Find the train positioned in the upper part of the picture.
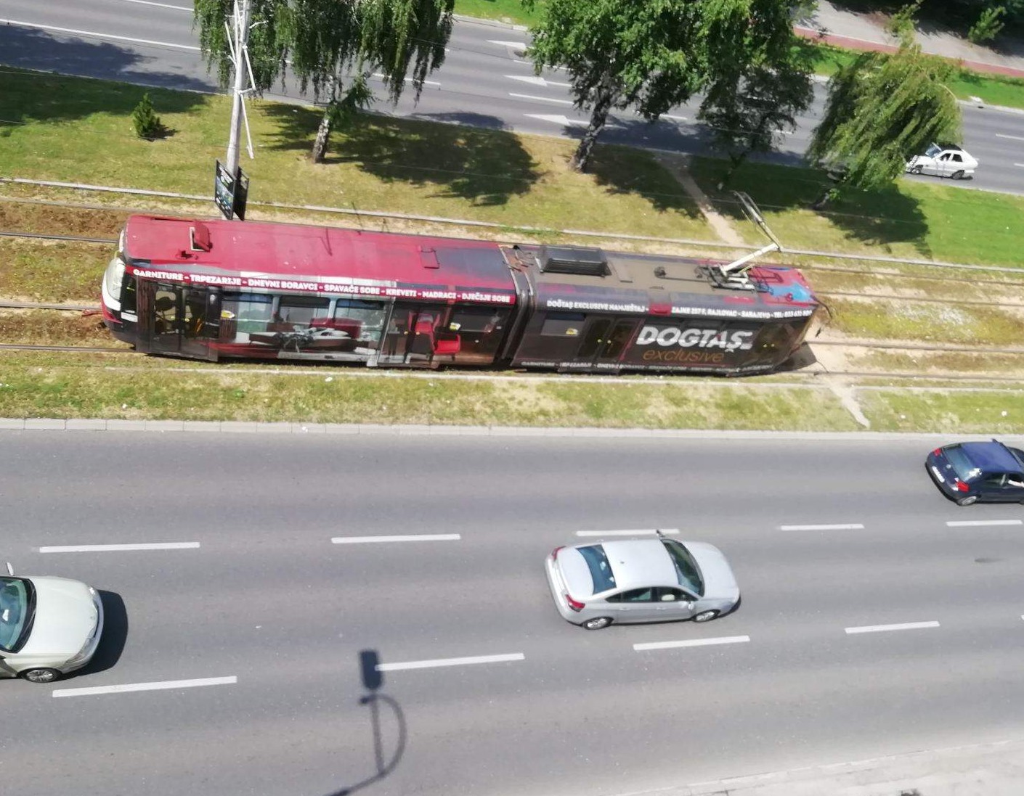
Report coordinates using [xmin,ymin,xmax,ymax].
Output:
[80,192,821,375]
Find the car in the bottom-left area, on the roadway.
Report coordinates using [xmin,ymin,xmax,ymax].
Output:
[0,562,104,683]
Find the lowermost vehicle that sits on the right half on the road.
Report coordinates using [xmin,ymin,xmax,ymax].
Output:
[551,531,743,630]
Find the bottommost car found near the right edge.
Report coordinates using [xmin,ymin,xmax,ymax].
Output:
[930,436,1024,504]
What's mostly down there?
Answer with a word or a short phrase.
paved ground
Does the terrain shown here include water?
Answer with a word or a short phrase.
No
